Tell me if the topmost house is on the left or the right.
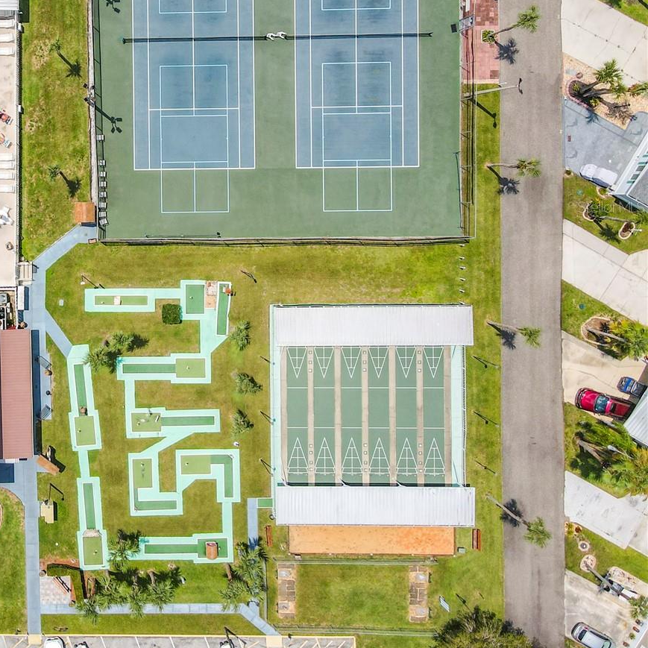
right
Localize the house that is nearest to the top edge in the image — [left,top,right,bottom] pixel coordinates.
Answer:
[612,125,648,211]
